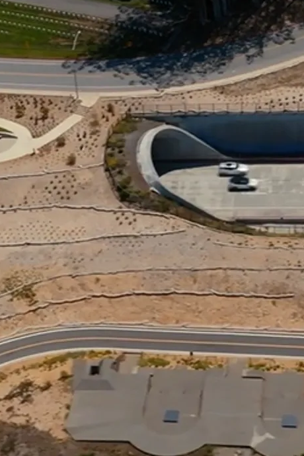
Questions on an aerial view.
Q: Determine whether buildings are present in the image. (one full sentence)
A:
No, no building is visible in the scene.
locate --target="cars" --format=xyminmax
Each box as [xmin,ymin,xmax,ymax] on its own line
[230,177,258,191]
[218,164,247,177]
